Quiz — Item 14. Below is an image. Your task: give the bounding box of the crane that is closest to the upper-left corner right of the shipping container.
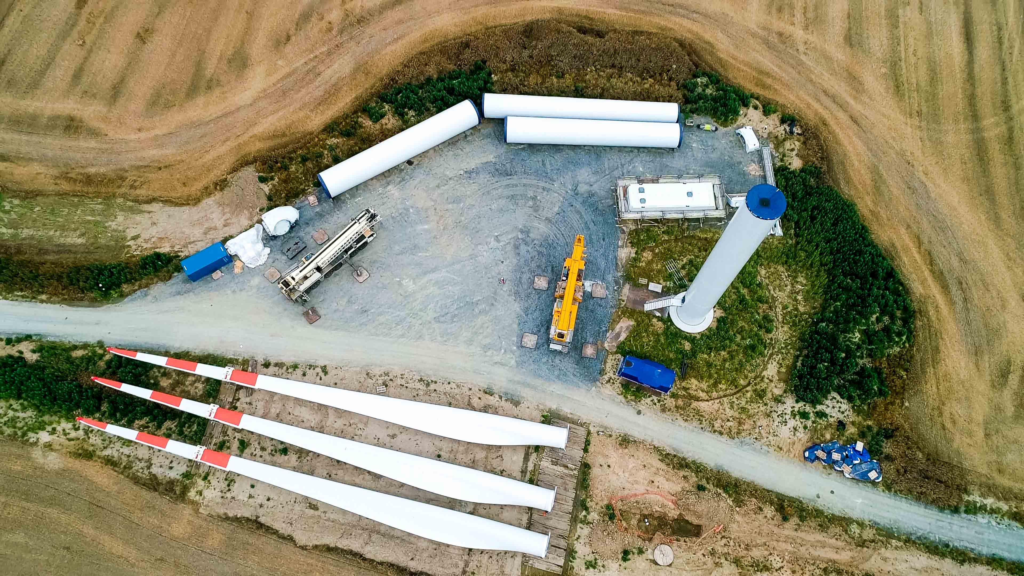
[275,210,383,317]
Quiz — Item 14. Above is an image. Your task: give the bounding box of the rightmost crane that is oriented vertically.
[549,233,587,355]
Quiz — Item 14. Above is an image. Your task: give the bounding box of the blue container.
[181,242,233,283]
